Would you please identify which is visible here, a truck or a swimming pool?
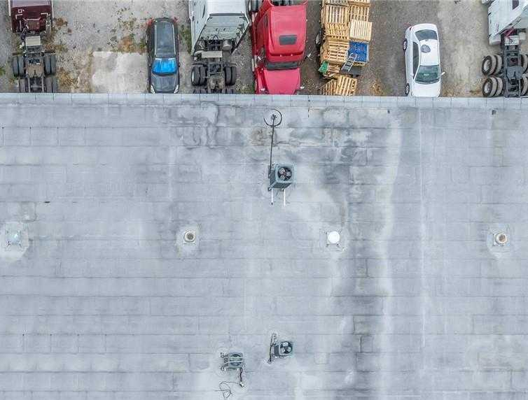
truck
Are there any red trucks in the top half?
Yes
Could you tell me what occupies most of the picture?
buildings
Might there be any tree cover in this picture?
No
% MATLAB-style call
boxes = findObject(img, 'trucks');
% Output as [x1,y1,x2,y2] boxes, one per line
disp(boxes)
[191,0,249,95]
[13,0,57,94]
[253,0,314,95]
[479,0,528,96]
